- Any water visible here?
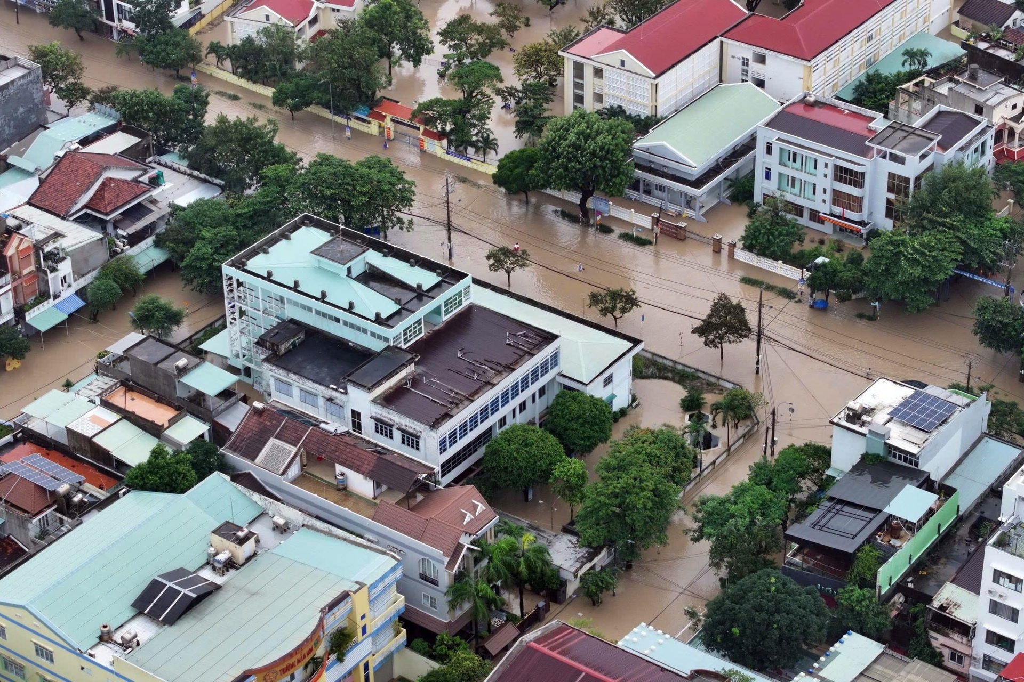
Yes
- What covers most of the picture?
buildings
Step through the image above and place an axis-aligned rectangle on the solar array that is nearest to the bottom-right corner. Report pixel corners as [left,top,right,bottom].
[888,390,958,433]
